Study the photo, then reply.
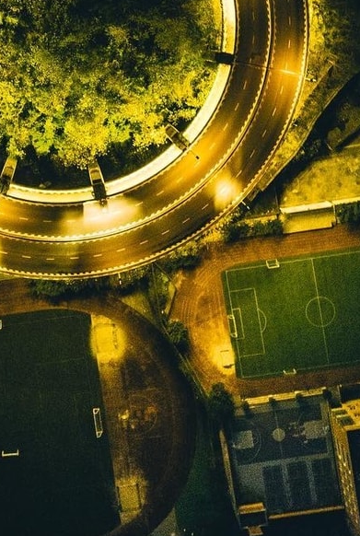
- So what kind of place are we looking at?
sports ground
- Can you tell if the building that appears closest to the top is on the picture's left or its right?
right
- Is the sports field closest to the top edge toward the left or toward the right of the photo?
right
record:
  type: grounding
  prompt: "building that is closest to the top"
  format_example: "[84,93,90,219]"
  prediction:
[279,202,335,234]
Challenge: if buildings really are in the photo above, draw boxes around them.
[279,202,335,234]
[223,387,357,532]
